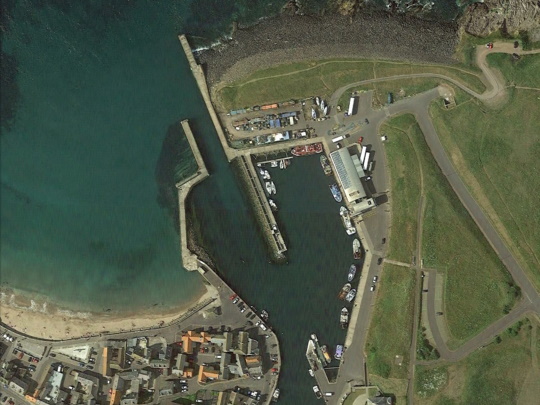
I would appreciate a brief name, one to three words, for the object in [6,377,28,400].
house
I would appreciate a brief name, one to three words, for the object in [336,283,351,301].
boat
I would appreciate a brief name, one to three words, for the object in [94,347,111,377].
house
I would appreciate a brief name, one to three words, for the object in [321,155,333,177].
boat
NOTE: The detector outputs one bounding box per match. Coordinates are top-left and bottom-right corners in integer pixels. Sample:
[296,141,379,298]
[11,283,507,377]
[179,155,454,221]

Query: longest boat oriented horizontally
[291,144,323,157]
